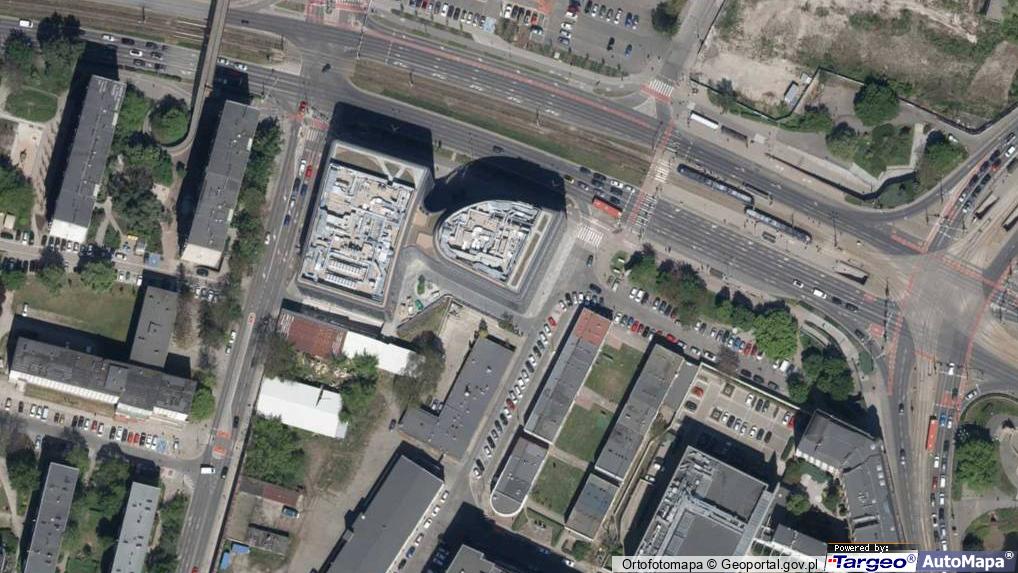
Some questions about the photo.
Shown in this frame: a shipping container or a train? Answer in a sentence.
This aerial view contains a train.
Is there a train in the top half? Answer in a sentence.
Yes, in the top half there is a train.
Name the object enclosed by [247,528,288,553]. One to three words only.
shed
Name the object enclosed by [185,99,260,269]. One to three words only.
building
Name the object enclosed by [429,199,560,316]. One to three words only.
building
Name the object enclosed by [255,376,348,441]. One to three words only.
shed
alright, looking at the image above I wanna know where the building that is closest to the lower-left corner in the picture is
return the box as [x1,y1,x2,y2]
[24,463,80,573]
